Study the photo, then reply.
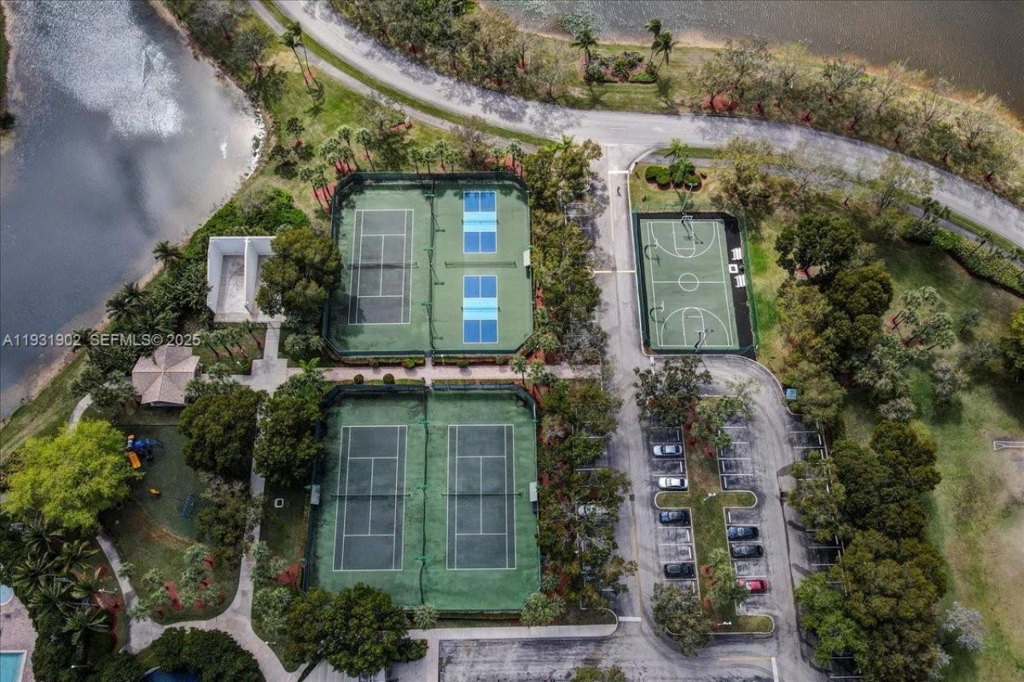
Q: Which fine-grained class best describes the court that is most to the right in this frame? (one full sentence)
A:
From above, the court that is most to the right can be identified as a basketball court.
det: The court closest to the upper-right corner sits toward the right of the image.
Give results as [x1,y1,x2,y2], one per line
[637,212,757,362]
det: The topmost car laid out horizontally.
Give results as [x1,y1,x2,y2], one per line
[653,444,682,457]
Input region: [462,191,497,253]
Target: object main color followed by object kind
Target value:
blue sports court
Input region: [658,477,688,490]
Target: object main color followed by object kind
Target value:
white vehicle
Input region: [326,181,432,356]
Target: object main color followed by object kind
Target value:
gray tennis court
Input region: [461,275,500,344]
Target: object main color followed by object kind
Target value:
blue sports court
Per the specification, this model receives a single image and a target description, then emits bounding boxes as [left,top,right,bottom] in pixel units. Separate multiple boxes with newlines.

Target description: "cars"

[660,510,690,524]
[653,444,682,457]
[732,544,764,558]
[578,503,607,517]
[663,563,695,577]
[658,477,688,490]
[728,525,758,539]
[738,579,769,593]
